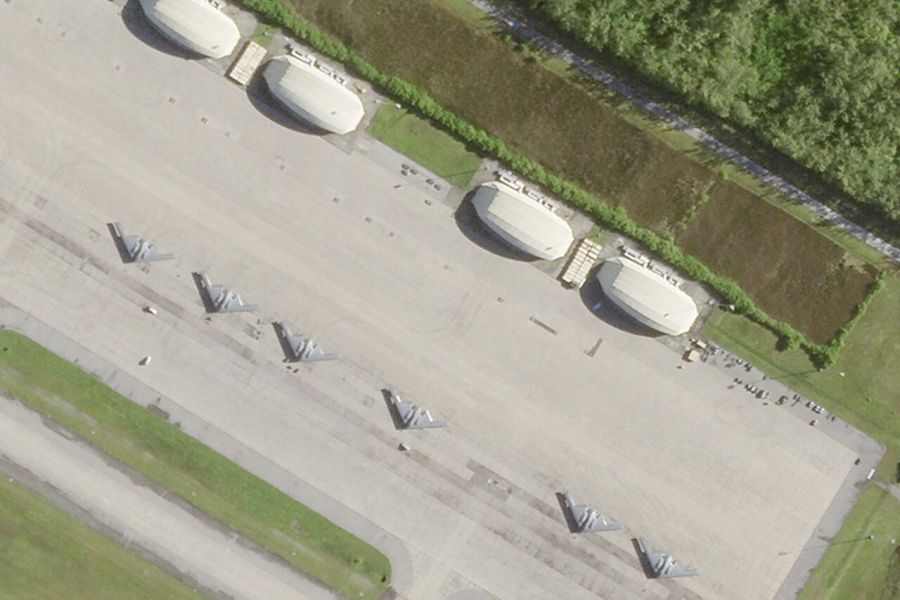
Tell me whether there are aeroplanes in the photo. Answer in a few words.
Yes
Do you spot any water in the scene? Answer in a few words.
No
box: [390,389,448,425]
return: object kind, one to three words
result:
airplane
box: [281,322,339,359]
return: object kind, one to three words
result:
airplane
